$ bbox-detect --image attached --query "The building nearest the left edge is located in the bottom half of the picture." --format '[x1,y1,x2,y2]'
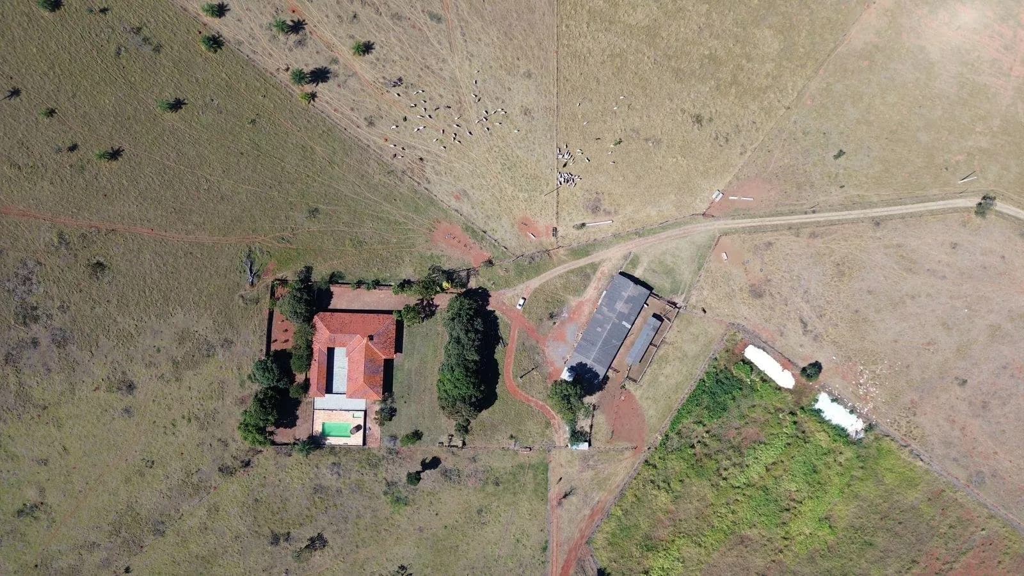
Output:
[309,312,401,399]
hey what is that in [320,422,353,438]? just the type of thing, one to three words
swimming pool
